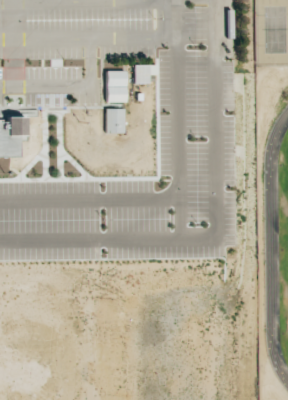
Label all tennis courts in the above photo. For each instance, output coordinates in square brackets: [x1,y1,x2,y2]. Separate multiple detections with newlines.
[263,8,288,53]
